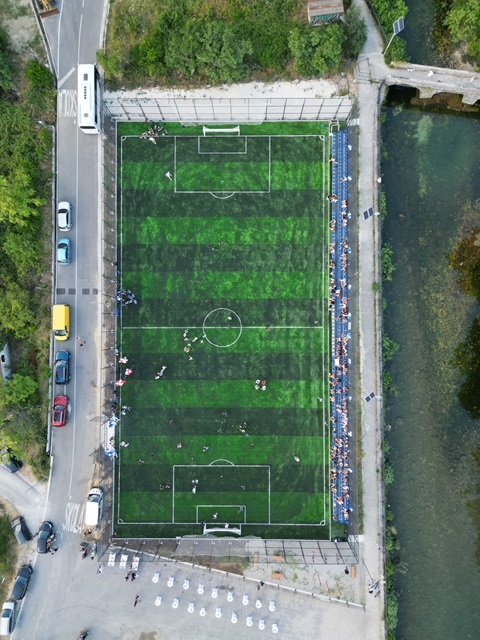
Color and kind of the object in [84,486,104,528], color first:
white vehicle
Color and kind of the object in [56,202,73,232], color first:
white car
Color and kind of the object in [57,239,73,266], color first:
blue car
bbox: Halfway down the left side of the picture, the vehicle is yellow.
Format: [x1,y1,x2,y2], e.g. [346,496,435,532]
[53,305,71,340]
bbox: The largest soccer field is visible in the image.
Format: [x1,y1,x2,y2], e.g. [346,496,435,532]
[114,121,348,541]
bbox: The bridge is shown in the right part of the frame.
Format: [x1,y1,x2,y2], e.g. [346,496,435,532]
[374,61,480,112]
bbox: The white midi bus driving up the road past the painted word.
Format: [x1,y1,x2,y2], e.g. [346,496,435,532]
[78,63,102,136]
